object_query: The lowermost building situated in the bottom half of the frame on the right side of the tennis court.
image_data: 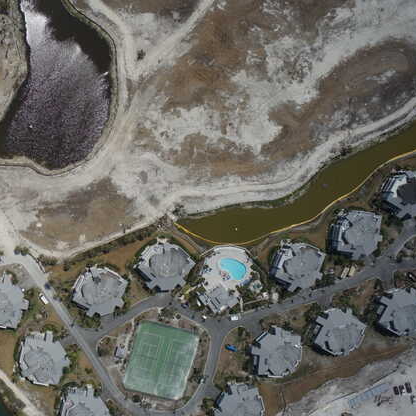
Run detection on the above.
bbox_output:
[217,381,267,416]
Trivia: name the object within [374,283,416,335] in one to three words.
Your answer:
house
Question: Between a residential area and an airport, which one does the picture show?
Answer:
residential area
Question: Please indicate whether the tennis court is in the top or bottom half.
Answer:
bottom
